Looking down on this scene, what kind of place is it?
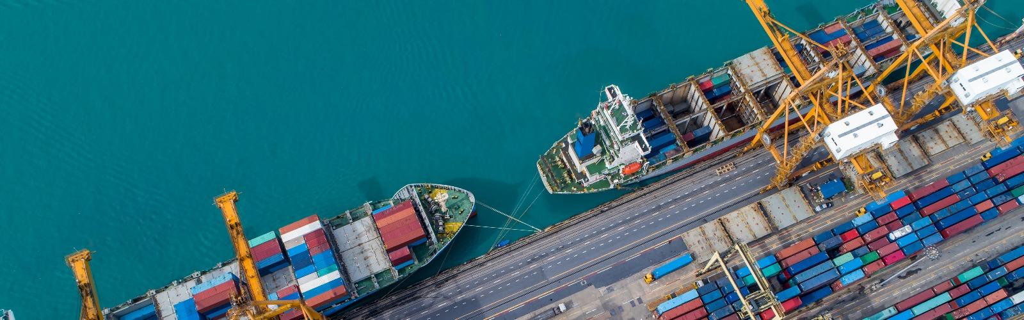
port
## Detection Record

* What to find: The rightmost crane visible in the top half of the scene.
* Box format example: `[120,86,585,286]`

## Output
[850,0,1024,148]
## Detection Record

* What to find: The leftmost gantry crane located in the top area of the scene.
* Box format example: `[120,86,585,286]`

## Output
[739,0,910,202]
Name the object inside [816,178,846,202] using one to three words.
shed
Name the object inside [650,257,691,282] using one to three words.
shipping container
